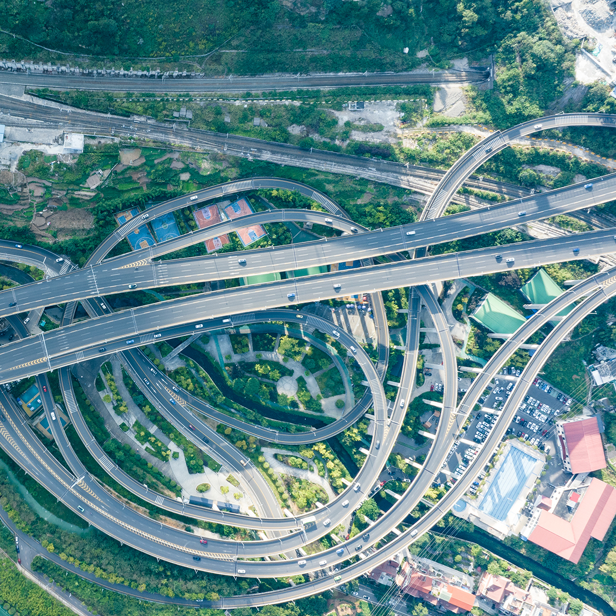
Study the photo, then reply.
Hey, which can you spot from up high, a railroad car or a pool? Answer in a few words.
pool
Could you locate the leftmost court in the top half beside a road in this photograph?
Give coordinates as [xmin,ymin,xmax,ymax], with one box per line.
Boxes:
[114,206,156,249]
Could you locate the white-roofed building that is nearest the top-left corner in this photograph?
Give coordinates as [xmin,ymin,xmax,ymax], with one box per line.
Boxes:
[65,132,84,154]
